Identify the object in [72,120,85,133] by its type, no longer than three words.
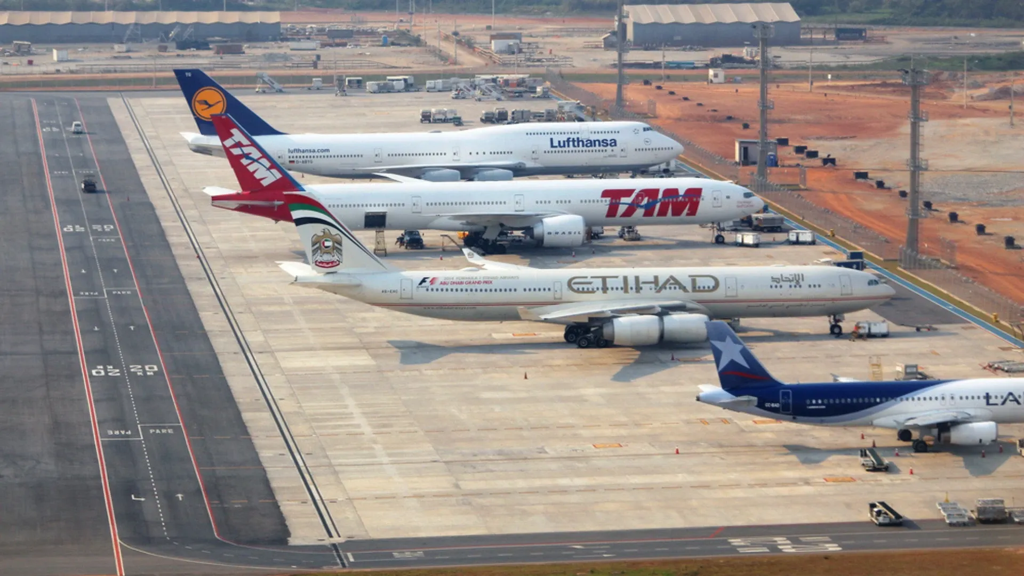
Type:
vehicle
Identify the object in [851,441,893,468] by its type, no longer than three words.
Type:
work vehicle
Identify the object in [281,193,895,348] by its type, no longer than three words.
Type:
airplane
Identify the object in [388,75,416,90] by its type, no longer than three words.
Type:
vehicle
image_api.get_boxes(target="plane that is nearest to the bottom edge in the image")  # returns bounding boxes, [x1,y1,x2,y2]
[695,322,1024,453]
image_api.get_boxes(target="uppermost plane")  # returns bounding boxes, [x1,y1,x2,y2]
[174,69,683,183]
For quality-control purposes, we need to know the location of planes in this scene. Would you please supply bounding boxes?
[281,193,895,348]
[695,322,1024,453]
[204,114,764,254]
[174,69,683,183]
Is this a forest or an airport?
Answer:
airport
